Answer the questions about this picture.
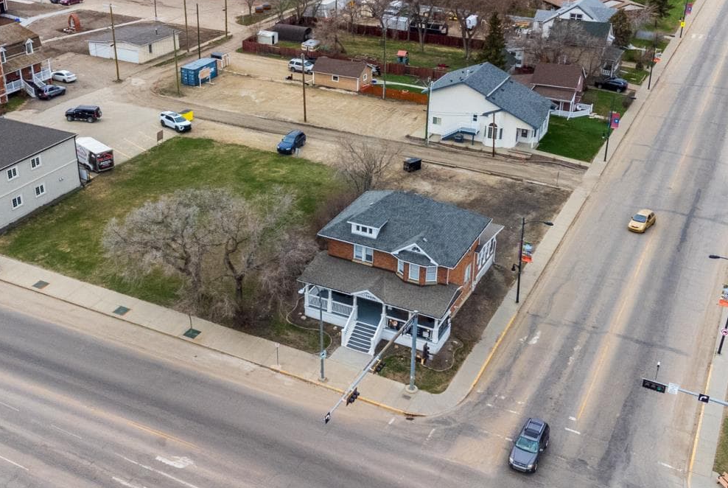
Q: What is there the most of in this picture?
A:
paved ground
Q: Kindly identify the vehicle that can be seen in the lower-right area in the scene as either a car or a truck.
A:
car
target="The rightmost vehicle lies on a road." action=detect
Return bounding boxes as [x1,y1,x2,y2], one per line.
[628,203,661,231]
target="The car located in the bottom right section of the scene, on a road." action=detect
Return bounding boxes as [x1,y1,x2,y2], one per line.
[510,409,559,472]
